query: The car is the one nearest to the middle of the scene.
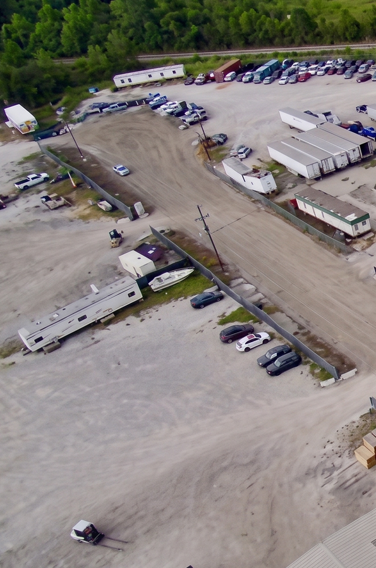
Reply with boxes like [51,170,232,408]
[190,289,224,308]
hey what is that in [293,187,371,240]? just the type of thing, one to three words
trailer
